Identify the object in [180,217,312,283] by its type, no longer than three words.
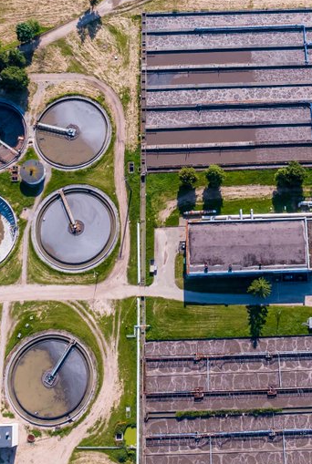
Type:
building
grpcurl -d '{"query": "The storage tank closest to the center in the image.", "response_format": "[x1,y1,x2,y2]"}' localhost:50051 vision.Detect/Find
[31,184,120,273]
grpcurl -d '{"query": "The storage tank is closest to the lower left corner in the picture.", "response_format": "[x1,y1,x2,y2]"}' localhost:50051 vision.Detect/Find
[4,330,97,429]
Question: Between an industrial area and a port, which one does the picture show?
industrial area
